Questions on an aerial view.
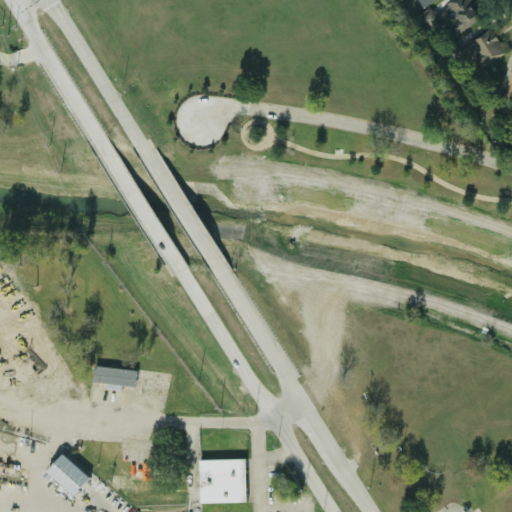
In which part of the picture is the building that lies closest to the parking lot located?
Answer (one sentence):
The building that lies closest to the parking lot is in the bottom part of the image.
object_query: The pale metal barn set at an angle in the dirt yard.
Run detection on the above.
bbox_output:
[46,454,89,496]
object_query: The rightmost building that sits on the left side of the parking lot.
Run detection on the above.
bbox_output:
[200,460,247,504]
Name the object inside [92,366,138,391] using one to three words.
shed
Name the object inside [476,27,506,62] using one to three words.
house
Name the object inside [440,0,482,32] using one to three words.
house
